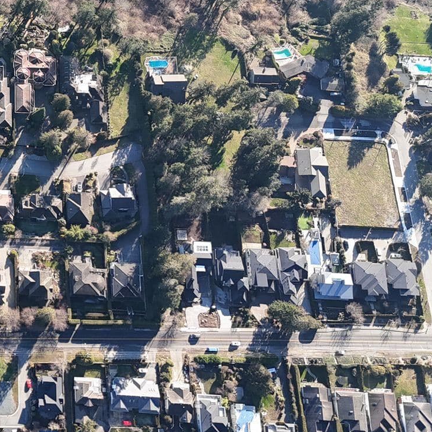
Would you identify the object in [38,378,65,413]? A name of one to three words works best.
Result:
house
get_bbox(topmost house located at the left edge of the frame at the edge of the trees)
[13,50,56,88]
